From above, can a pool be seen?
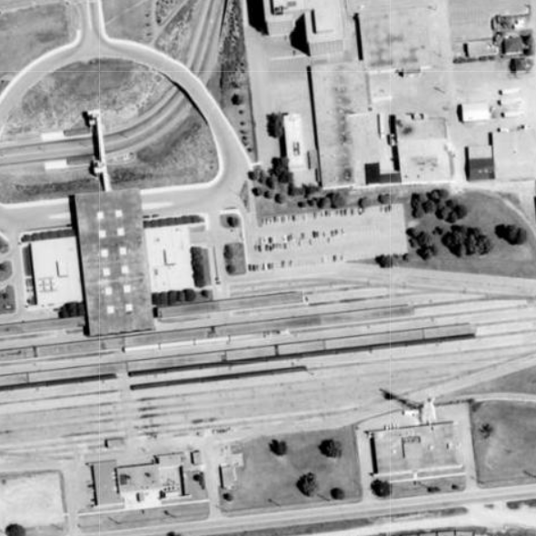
No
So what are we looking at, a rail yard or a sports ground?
rail yard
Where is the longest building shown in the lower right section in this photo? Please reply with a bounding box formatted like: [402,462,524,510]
[374,424,462,475]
